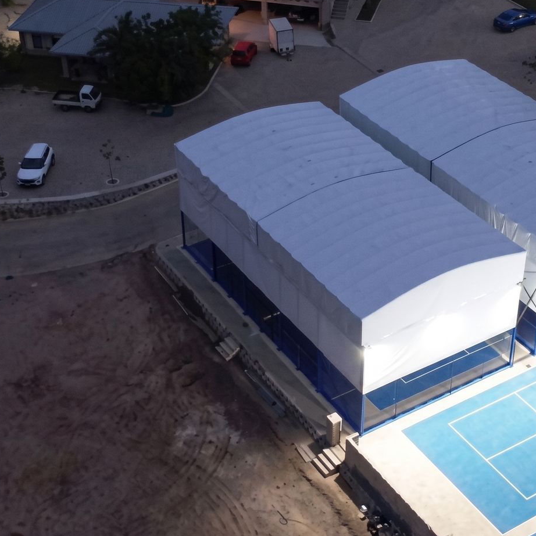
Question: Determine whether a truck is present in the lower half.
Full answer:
No, in the lower half there is no truck.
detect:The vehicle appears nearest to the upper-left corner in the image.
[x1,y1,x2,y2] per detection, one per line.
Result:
[49,80,101,110]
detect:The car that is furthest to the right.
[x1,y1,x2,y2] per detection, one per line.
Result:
[491,7,536,33]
